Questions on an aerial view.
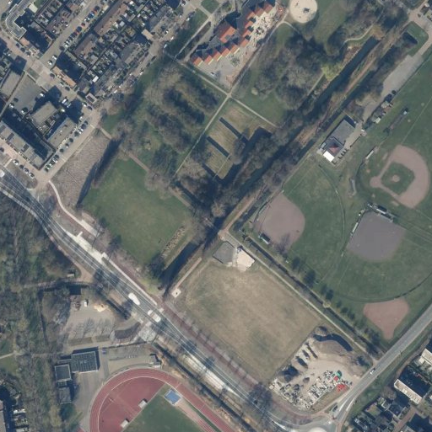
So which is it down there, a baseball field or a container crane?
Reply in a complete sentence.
There is a baseball field in the scene.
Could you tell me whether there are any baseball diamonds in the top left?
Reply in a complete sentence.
No, no baseball diamond appears in the top left.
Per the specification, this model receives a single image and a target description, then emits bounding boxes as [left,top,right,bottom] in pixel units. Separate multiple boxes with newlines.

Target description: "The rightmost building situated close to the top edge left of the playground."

[191,0,275,66]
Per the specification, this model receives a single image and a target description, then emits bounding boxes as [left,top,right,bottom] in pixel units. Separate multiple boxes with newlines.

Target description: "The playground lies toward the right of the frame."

[290,0,317,22]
